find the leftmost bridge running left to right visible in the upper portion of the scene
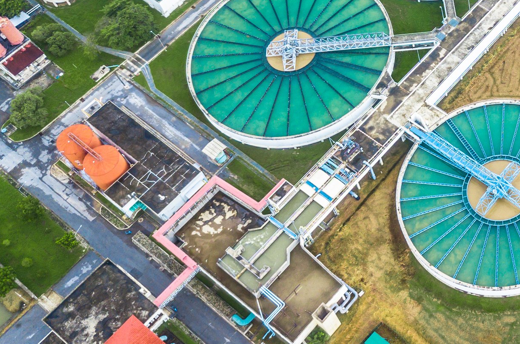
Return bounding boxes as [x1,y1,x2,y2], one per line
[264,24,394,68]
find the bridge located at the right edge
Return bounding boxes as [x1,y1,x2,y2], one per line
[412,126,520,214]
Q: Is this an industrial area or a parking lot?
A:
industrial area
